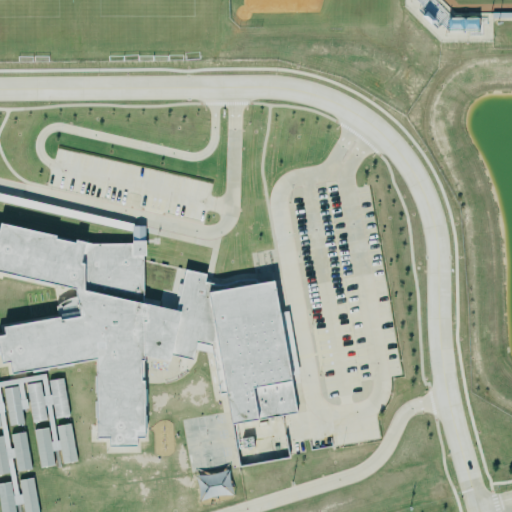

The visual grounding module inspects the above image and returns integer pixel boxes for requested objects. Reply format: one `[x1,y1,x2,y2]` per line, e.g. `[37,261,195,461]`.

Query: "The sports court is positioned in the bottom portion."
[184,414,232,472]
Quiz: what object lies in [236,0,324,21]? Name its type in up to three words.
baseball field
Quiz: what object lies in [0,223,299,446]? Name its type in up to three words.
building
